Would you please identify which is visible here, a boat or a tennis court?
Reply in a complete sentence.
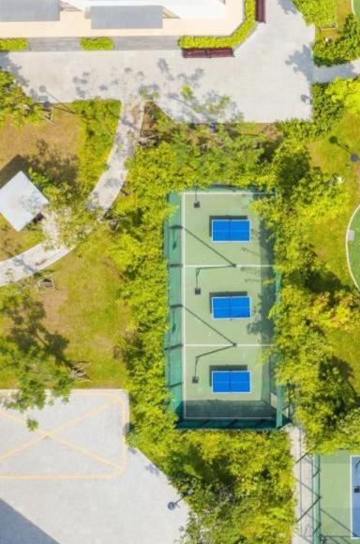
Visible in the photo is a tennis court.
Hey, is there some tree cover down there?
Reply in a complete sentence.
Yes, the picture does contain tree cover.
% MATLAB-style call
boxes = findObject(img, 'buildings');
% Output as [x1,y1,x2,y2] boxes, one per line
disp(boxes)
[0,171,65,231]
[0,0,225,29]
